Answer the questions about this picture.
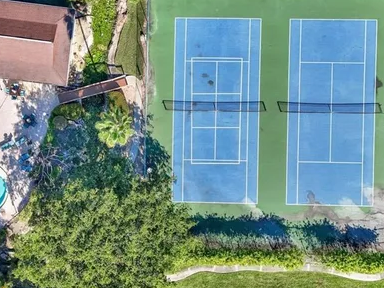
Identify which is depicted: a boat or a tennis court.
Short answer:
tennis court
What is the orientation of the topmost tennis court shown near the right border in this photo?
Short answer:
up and down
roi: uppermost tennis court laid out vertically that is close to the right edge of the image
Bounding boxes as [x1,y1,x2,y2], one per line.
[287,19,376,206]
